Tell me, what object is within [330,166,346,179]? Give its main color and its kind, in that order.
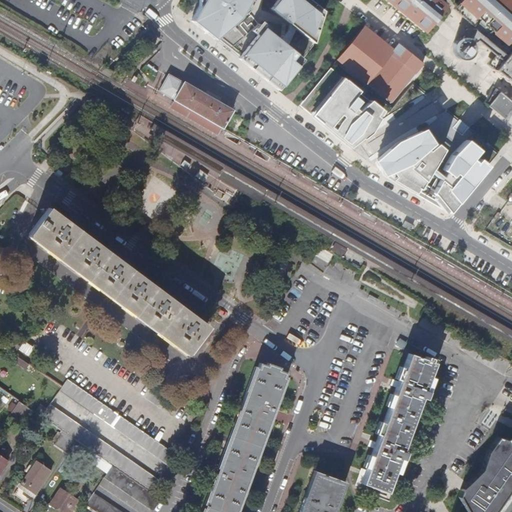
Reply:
white vehicle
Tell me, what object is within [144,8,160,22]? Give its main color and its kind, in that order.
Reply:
white vehicle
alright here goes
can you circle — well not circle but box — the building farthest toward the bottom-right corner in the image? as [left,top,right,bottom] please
[454,436,512,512]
